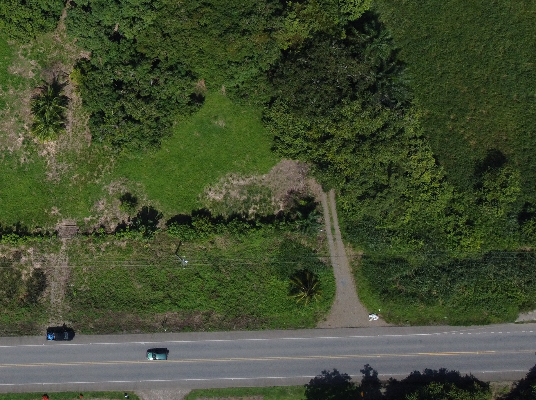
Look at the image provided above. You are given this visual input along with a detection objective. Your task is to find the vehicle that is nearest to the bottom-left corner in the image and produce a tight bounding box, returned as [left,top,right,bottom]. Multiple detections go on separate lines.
[46,331,76,344]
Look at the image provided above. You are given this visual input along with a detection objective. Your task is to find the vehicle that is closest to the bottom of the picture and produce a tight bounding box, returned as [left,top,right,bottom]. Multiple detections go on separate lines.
[146,352,170,365]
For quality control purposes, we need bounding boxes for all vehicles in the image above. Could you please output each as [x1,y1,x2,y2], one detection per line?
[46,331,76,344]
[146,352,170,365]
